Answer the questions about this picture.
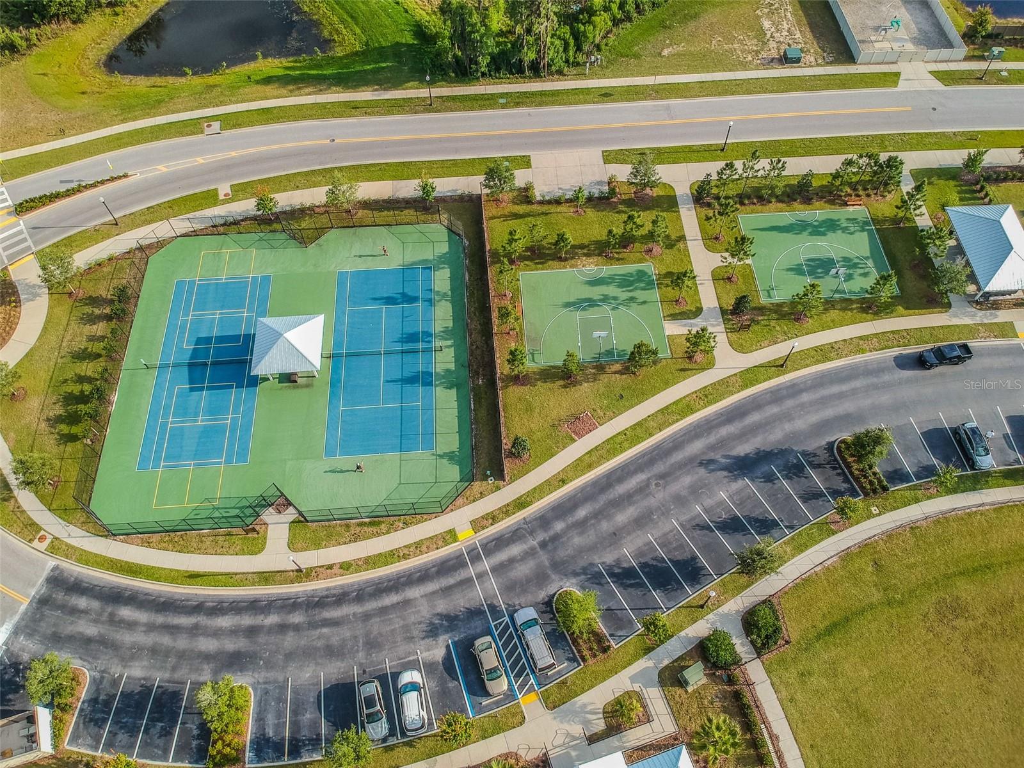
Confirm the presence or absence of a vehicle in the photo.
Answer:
Yes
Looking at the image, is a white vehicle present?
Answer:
Yes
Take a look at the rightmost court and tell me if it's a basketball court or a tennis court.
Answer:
basketball court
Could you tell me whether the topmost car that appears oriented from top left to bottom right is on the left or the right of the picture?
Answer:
right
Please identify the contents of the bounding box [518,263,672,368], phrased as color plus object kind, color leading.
green basketball court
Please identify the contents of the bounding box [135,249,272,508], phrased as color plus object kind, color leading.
blue tennis court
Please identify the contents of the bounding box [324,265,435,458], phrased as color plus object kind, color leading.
blue tennis court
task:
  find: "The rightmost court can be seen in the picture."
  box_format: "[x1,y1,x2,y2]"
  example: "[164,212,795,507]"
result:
[737,208,902,303]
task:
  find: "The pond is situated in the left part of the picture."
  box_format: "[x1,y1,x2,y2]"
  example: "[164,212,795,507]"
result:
[109,0,327,80]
